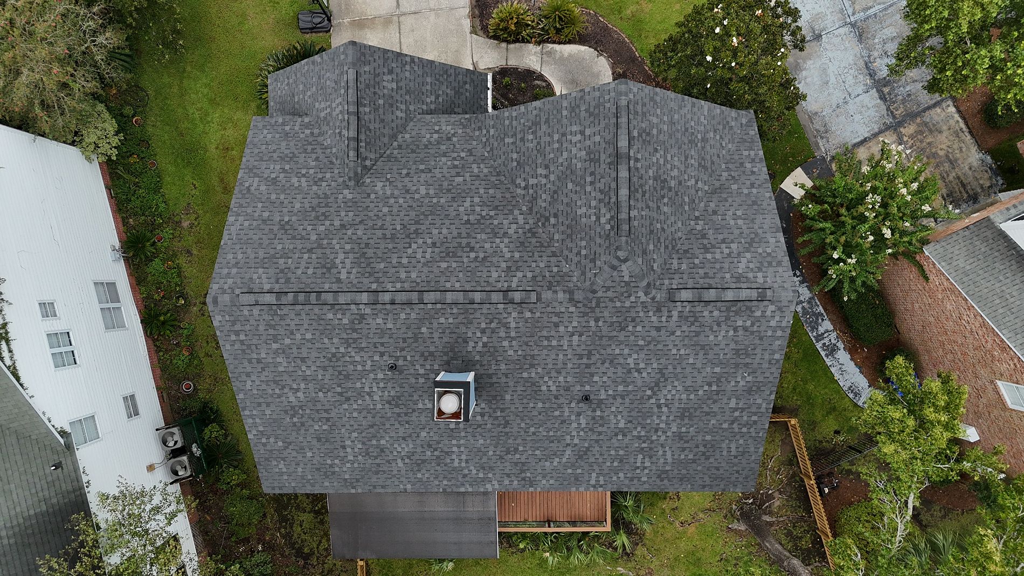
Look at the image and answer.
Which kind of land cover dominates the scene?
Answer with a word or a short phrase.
buildings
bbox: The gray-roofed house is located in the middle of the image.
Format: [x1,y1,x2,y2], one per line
[207,41,797,558]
